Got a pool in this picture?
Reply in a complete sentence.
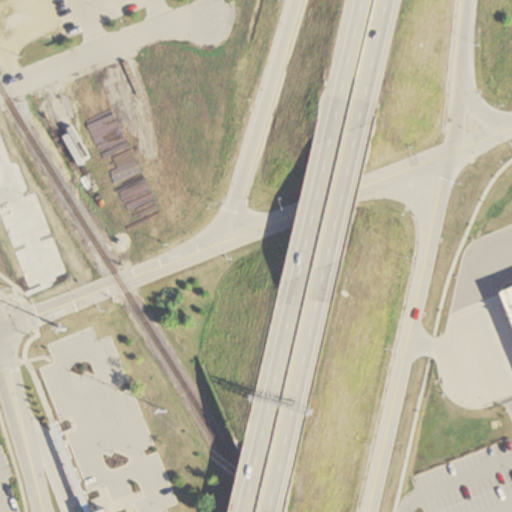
No, I can't see a single pool in this photo.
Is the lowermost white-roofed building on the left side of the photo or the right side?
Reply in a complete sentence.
The lowermost white-roofed building is on the left side of the image.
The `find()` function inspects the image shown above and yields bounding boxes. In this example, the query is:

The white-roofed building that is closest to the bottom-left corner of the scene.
[50,418,86,502]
